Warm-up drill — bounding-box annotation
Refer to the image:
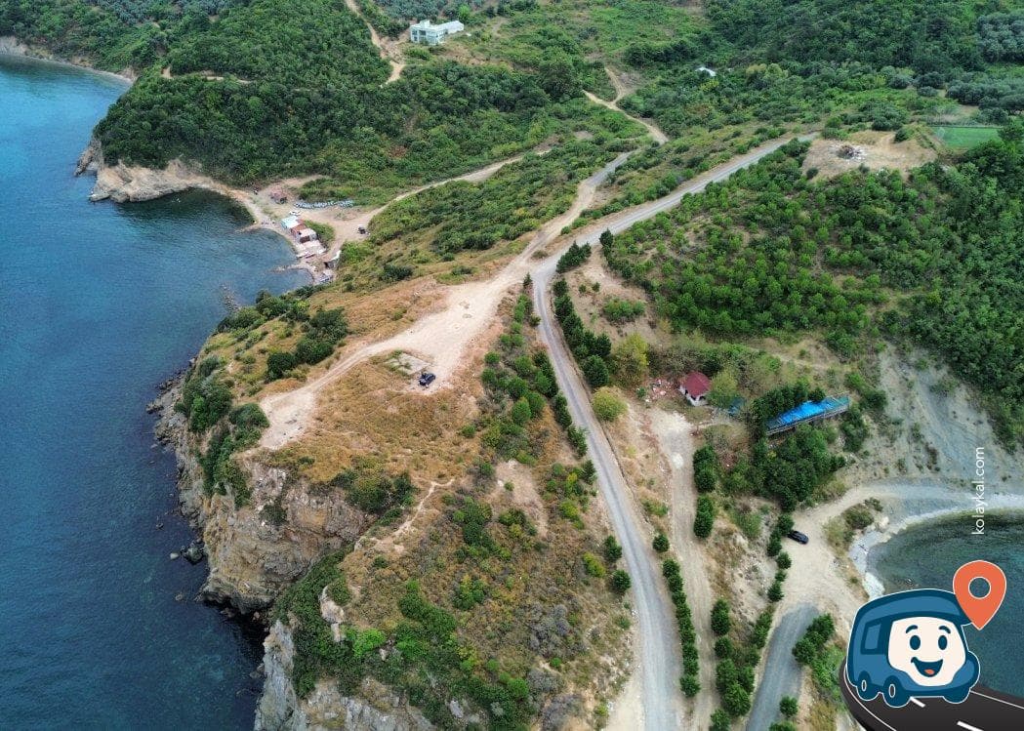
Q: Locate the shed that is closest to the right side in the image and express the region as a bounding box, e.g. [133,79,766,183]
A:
[761,392,850,436]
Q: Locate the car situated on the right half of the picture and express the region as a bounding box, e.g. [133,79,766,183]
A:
[787,528,811,543]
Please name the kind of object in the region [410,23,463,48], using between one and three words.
house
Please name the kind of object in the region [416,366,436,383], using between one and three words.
car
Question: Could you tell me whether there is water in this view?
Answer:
Yes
